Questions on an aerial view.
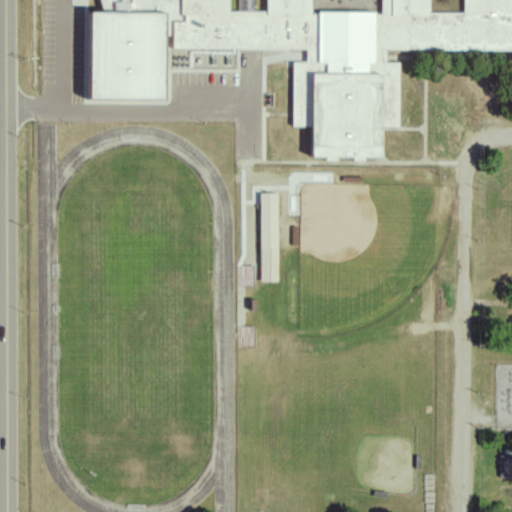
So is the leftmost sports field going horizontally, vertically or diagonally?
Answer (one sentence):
From this overhead view, the leftmost sports field appears to run vertically.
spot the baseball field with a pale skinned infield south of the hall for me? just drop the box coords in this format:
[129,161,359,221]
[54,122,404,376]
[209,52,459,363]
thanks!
[300,184,454,334]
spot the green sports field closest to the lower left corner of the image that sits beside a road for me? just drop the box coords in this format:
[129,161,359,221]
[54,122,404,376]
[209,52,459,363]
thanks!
[58,144,214,505]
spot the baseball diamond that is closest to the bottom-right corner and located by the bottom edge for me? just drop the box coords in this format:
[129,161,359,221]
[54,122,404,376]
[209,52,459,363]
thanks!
[360,436,412,493]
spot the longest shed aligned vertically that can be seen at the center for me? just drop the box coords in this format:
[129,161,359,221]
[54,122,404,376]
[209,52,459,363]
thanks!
[261,193,280,282]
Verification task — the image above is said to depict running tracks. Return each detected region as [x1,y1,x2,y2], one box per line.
[38,122,234,512]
